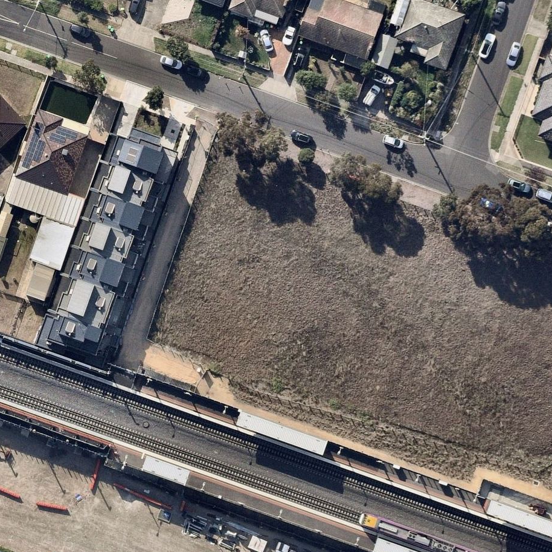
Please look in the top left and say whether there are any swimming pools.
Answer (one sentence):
Yes, a swimming pool can be seen in the top left.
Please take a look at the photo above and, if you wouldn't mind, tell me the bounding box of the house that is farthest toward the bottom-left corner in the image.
[36,314,103,356]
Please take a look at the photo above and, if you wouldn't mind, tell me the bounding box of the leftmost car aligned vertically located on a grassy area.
[260,28,273,53]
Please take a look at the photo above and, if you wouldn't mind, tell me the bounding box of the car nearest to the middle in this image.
[289,129,315,145]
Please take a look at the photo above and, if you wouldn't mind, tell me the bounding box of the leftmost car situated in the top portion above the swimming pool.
[68,23,94,39]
